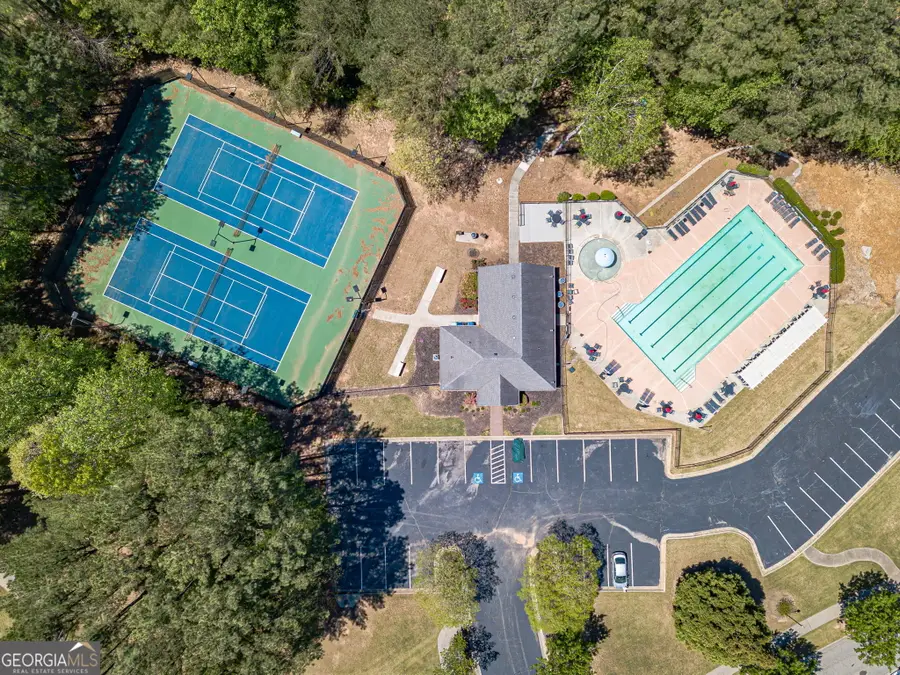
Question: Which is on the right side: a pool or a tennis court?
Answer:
pool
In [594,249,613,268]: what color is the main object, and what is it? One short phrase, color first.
white fountain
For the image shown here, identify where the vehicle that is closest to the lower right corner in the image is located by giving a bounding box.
[613,552,629,588]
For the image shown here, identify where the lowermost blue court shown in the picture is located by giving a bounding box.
[105,217,311,373]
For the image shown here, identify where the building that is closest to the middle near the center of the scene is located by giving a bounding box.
[439,264,555,408]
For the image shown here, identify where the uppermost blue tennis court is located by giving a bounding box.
[155,114,359,267]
